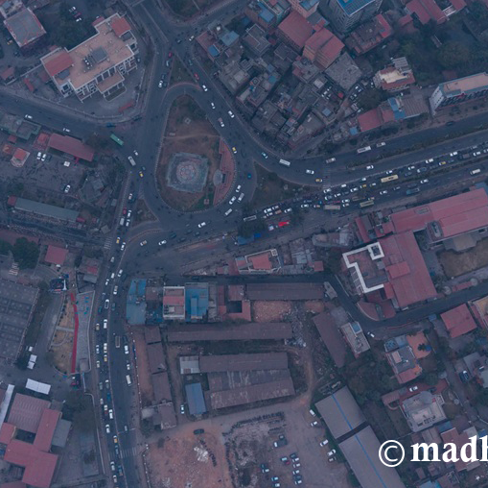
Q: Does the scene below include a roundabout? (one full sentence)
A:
Yes, the photo shows a roundabout.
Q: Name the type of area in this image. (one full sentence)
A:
The picture captures a residential area.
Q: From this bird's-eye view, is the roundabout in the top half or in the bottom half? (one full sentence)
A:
The roundabout is in the top half of the image.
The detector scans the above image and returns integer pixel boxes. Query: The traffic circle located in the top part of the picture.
[155,94,236,213]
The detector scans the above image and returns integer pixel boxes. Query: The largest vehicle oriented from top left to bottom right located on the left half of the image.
[108,132,125,147]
